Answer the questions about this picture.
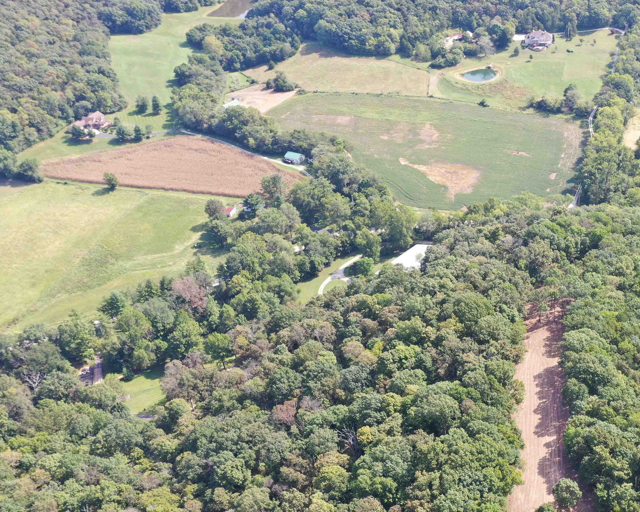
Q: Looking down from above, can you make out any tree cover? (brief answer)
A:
Yes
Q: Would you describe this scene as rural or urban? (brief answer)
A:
rural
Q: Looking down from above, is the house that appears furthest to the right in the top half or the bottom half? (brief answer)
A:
top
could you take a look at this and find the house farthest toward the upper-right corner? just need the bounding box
[522,25,550,47]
